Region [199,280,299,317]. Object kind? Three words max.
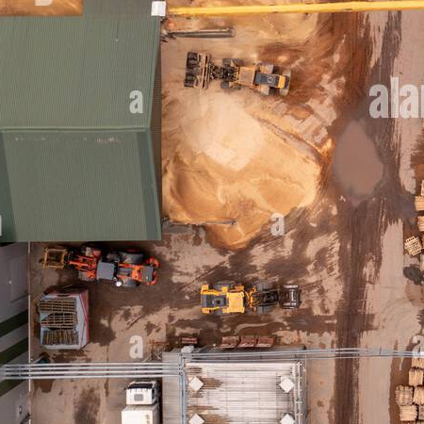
work vehicle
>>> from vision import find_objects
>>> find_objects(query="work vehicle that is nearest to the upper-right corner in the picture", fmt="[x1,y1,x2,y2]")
[190,50,292,95]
